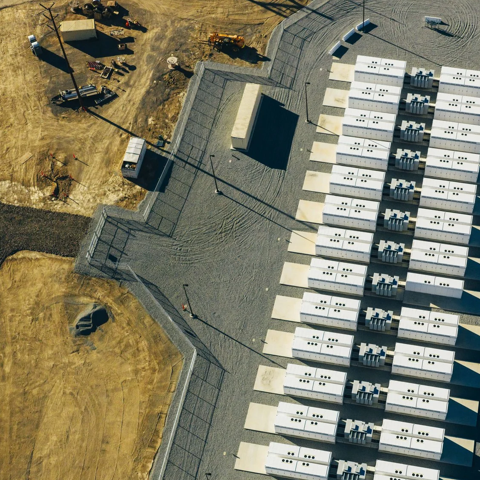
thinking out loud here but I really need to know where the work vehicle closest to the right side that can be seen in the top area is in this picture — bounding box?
[201,35,242,51]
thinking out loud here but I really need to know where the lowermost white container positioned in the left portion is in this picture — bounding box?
[121,137,148,179]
